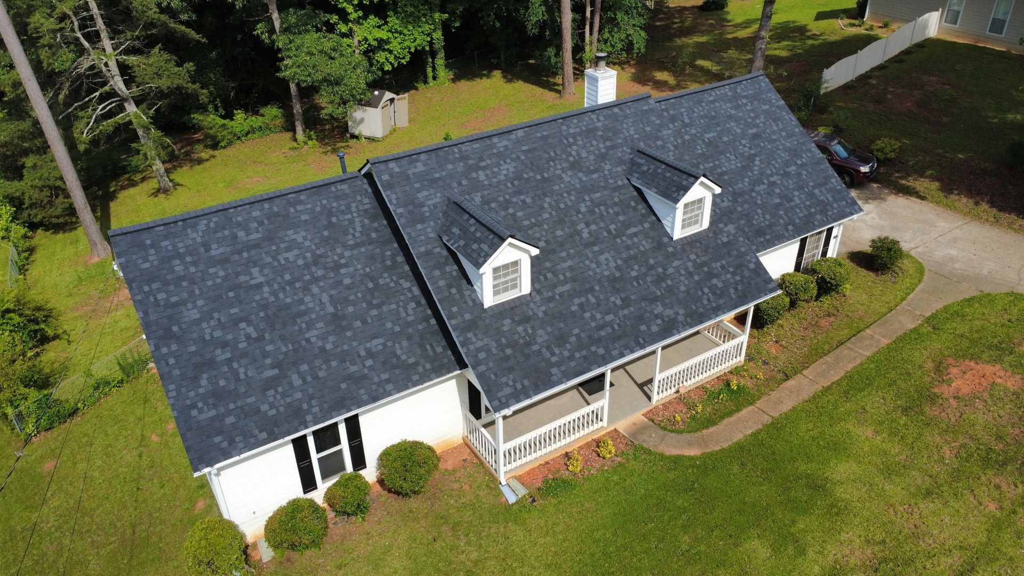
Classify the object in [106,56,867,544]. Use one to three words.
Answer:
house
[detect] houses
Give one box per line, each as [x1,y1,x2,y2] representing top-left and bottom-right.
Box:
[867,0,1024,55]
[106,56,867,544]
